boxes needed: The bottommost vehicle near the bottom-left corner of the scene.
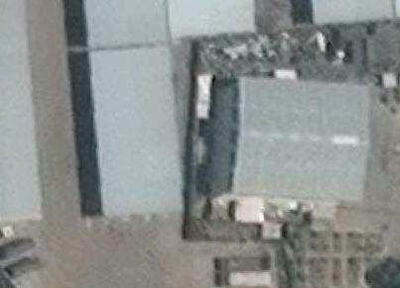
[6,257,43,279]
